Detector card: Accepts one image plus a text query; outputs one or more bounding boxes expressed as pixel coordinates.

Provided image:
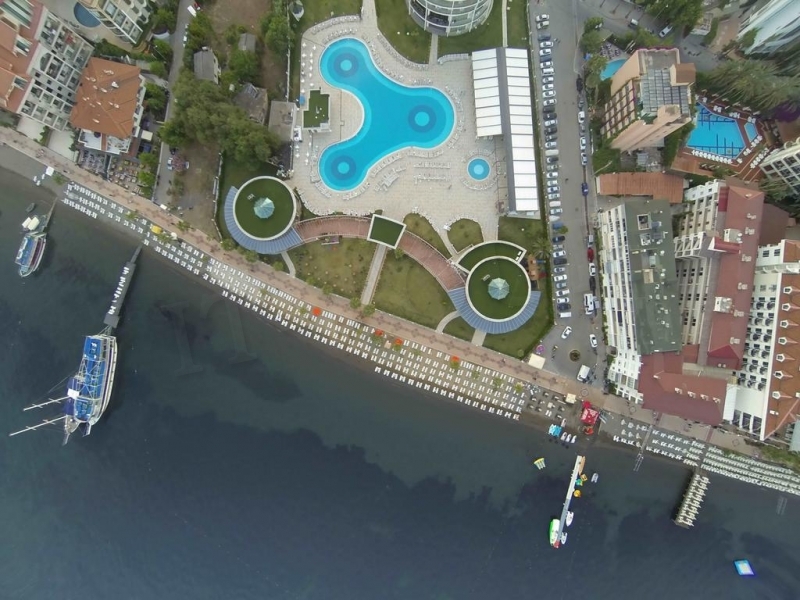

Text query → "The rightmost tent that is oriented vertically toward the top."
[505,48,538,216]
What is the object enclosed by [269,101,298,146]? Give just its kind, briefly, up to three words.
house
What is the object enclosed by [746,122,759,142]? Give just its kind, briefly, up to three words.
swimming pool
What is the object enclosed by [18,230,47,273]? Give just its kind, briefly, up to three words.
boat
